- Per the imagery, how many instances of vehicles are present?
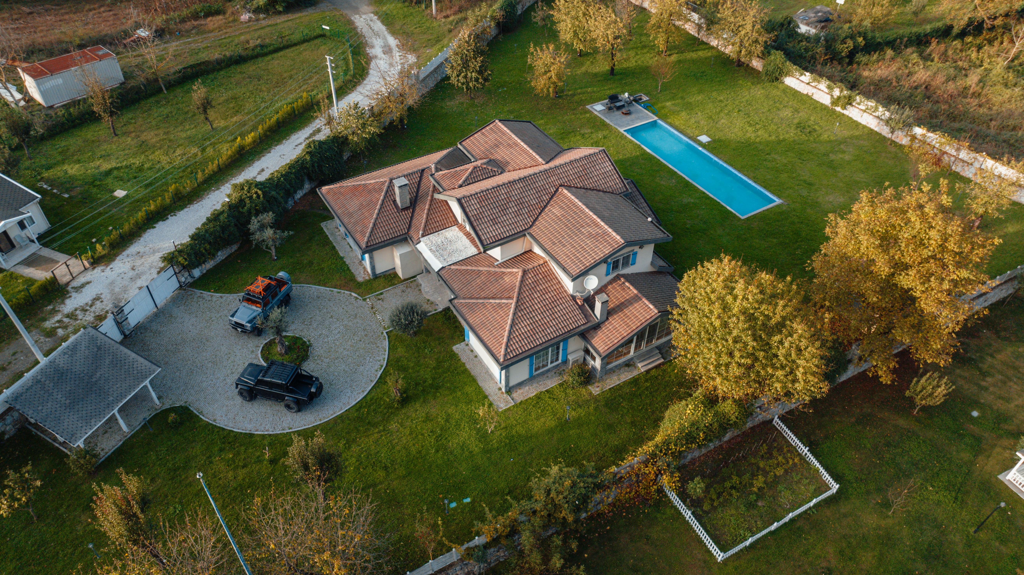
2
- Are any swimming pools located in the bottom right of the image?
No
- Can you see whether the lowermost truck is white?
No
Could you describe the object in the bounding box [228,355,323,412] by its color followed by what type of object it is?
black truck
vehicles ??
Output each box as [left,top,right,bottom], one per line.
[228,355,323,412]
[222,271,297,338]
